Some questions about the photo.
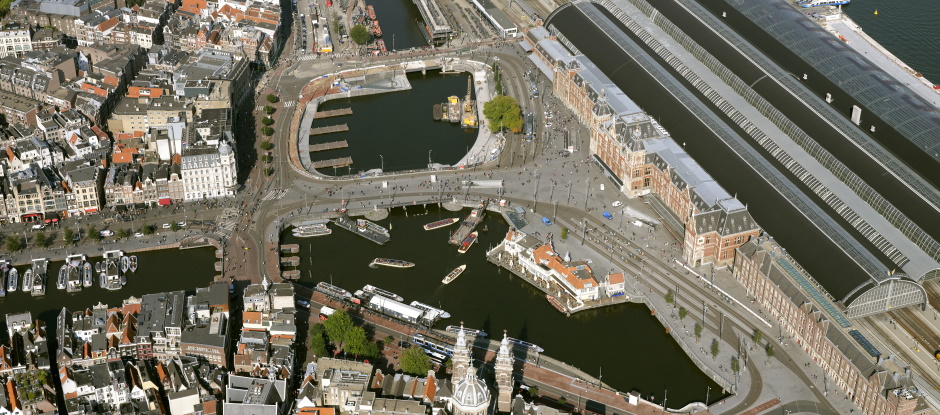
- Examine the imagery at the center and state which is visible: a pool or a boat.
boat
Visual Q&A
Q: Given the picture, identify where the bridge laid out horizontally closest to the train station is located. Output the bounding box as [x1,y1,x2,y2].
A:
[386,45,456,77]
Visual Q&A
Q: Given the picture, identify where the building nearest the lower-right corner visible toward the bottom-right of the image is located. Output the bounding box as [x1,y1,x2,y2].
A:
[735,241,940,415]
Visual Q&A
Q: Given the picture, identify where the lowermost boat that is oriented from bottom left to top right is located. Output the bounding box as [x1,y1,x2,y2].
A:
[441,264,466,283]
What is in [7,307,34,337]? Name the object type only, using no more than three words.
house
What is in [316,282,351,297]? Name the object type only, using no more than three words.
boat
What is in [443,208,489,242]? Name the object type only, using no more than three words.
pier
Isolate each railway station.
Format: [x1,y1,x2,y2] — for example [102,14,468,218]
[497,15,761,267]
